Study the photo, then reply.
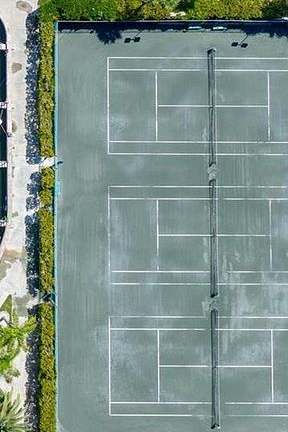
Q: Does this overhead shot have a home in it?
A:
No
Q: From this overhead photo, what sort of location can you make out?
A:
sports ground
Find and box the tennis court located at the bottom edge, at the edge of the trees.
[51,301,288,432]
